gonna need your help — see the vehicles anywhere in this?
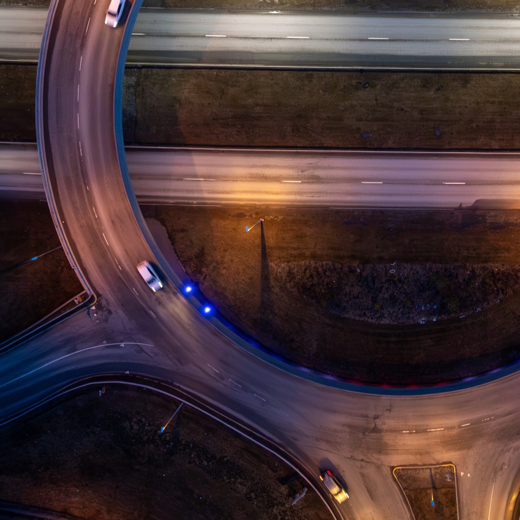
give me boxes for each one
[105,0,125,27]
[136,259,163,292]
[321,468,348,503]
